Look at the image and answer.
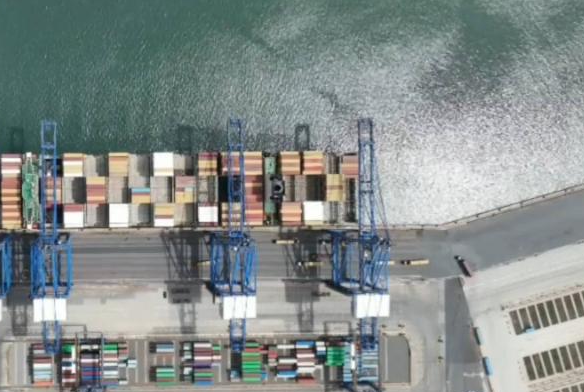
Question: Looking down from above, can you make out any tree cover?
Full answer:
No, there is no tree cover in the image.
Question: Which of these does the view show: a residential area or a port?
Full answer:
What you see here is a port.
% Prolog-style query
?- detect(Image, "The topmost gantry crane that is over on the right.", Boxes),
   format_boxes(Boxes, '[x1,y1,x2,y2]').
[323,117,394,349]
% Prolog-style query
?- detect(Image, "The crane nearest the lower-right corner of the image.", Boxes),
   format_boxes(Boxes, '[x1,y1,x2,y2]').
[341,325,384,392]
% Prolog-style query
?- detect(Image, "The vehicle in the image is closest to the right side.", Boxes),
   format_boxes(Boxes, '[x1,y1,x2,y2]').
[456,257,475,278]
